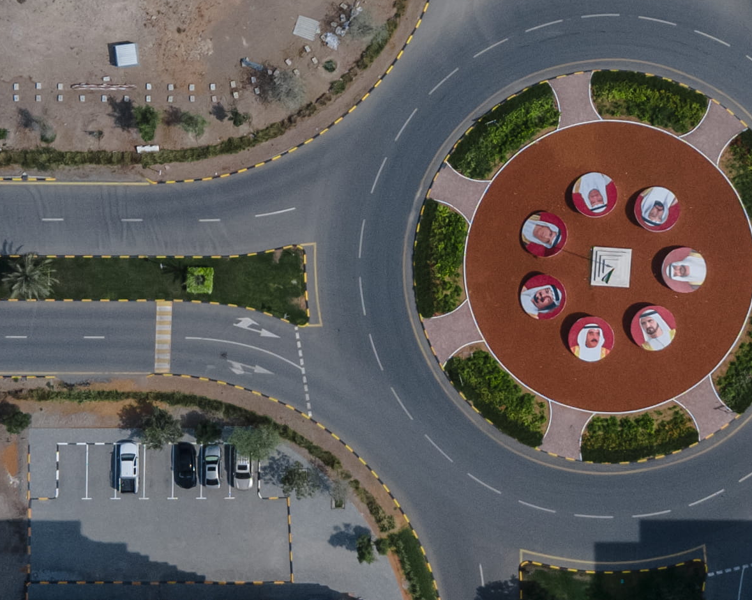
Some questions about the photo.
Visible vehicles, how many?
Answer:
four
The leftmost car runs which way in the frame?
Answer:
up and down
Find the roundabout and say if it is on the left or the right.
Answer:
right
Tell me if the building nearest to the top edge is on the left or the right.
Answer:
left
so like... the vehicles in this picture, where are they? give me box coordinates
[201,443,223,490]
[172,441,198,490]
[231,442,254,491]
[116,440,140,493]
